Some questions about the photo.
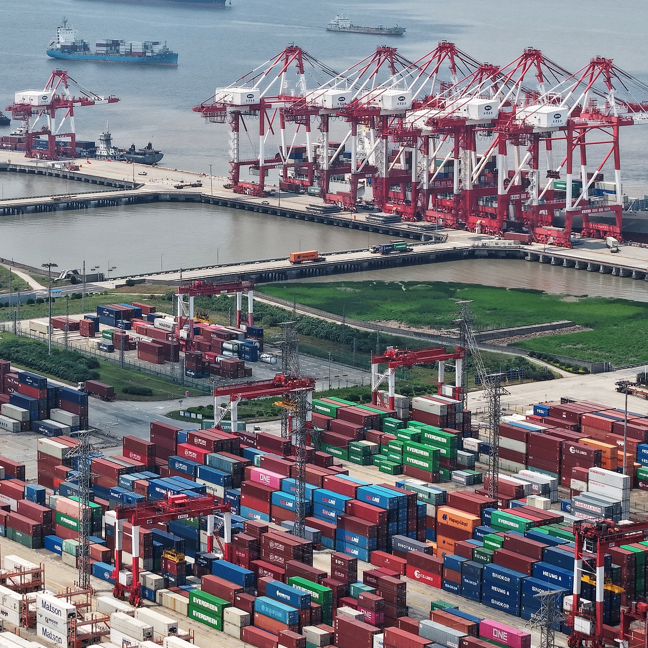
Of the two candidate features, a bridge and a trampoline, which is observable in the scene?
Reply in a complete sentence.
There is a bridge in the scene.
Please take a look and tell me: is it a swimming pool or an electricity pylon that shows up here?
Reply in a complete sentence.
The one in the frame is an electricity pylon.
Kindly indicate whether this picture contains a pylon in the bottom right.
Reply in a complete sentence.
Yes, a pylon appears in the bottom right.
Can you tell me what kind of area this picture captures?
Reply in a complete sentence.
The picture captures a port.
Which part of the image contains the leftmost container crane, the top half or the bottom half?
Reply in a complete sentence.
The top half of the photo is where the leftmost container crane is.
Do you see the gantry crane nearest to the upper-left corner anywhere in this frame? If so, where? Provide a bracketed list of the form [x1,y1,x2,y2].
[7,72,114,158]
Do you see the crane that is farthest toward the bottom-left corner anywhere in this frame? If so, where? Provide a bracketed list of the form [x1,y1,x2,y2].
[106,491,241,610]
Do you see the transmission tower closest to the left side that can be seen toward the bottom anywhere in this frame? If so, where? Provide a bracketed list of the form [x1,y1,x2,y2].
[59,422,108,590]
